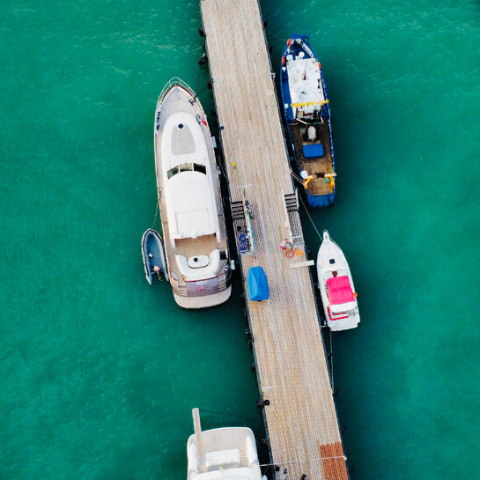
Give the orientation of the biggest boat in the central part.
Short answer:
from top to bottom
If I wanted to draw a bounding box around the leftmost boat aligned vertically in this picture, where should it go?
[140,229,170,285]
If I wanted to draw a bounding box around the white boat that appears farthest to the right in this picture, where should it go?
[318,228,360,331]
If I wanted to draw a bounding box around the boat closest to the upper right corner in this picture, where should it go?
[280,29,335,210]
